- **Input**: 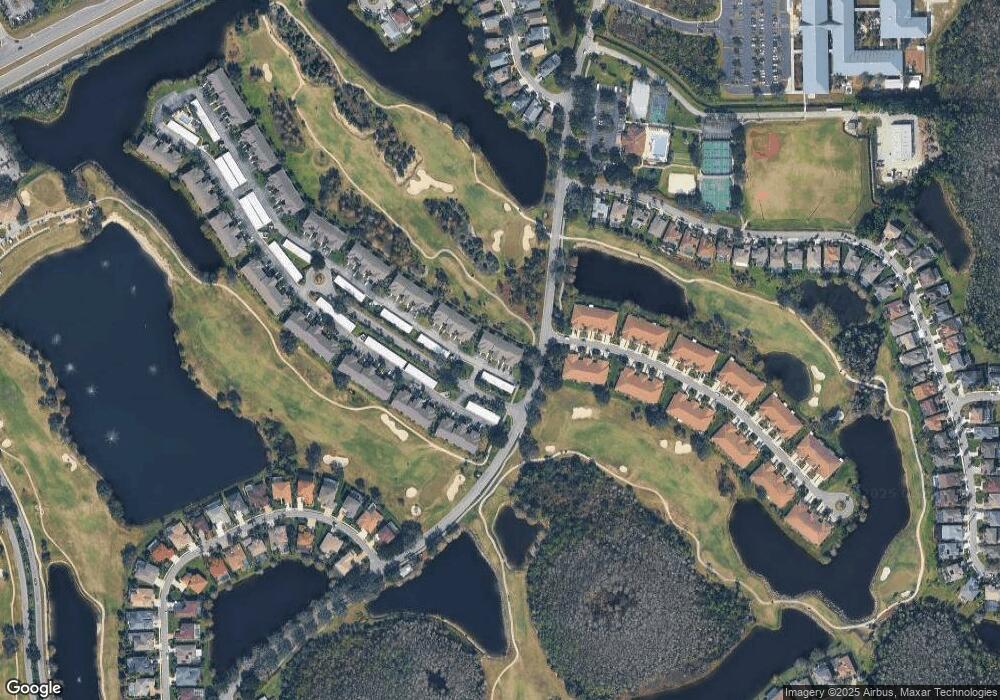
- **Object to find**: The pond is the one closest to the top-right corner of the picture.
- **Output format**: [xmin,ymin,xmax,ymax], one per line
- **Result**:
[913,184,971,270]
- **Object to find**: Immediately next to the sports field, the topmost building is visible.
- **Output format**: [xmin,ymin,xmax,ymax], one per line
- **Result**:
[795,0,929,94]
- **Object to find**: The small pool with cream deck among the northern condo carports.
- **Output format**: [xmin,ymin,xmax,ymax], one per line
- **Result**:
[172,110,195,131]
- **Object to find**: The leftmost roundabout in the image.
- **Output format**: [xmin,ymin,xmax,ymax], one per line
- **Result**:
[304,267,336,298]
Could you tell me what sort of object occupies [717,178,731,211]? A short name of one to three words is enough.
tennis court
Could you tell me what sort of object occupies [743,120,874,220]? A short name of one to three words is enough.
sports field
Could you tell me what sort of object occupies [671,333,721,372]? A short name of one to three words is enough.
house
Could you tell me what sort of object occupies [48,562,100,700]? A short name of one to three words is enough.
pond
